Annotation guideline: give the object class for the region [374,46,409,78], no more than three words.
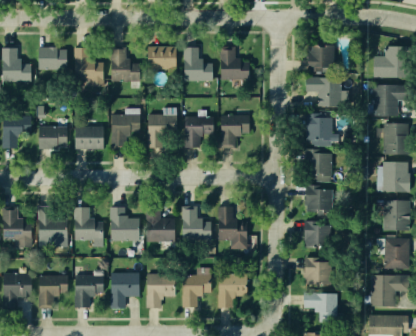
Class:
house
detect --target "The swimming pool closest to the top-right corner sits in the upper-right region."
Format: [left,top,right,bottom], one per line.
[337,38,350,71]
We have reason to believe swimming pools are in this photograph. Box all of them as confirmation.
[154,72,167,86]
[335,117,348,132]
[337,38,350,71]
